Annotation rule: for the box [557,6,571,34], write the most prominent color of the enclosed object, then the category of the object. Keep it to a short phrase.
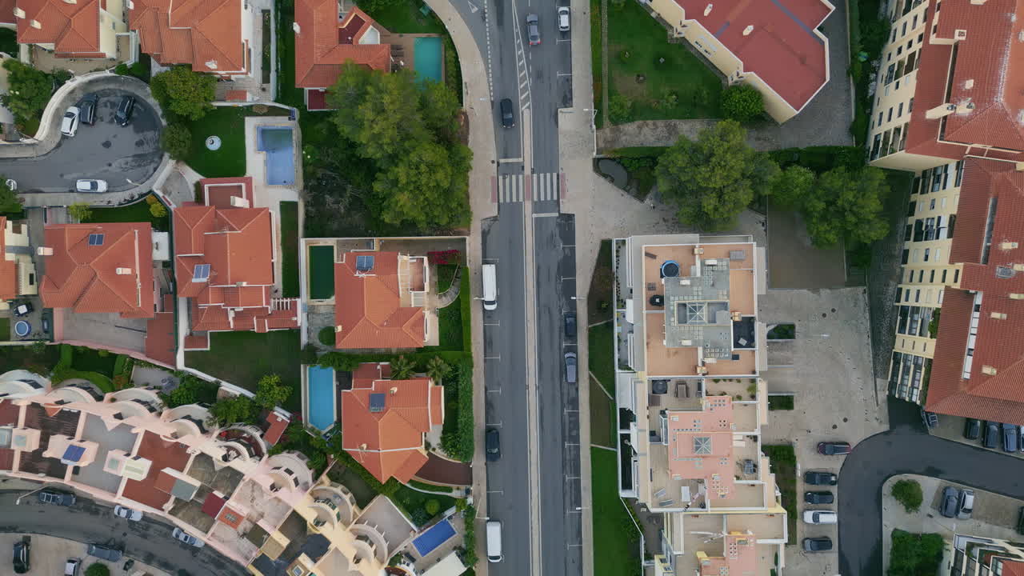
white car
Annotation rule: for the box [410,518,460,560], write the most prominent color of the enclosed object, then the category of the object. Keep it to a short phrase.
blue swimming pool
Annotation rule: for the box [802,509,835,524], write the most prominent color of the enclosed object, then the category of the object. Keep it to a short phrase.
white car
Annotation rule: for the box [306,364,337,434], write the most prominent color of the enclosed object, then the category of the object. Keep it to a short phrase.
blue swimming pool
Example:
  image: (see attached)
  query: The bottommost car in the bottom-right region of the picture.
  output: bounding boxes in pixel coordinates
[802,536,831,551]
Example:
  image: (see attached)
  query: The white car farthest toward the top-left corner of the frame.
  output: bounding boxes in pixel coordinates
[64,107,82,137]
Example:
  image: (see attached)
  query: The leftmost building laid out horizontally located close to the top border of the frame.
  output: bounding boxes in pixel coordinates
[13,0,144,73]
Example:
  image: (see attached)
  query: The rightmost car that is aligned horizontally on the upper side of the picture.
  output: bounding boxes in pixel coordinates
[78,178,109,193]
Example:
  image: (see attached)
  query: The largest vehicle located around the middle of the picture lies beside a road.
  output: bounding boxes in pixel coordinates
[481,264,499,309]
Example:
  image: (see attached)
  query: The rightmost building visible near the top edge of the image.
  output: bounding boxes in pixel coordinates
[869,0,1024,171]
